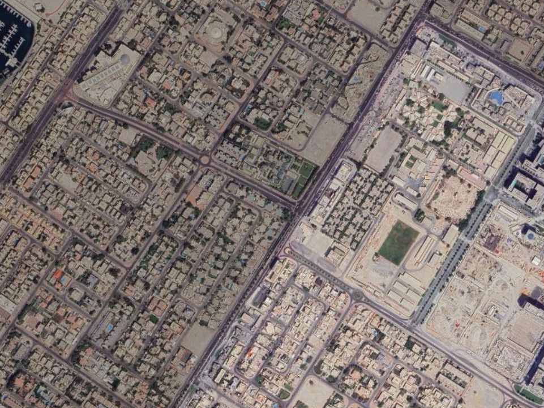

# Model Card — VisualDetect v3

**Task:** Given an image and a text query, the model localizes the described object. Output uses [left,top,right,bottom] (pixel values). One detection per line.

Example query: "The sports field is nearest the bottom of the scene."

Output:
[378,220,420,266]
